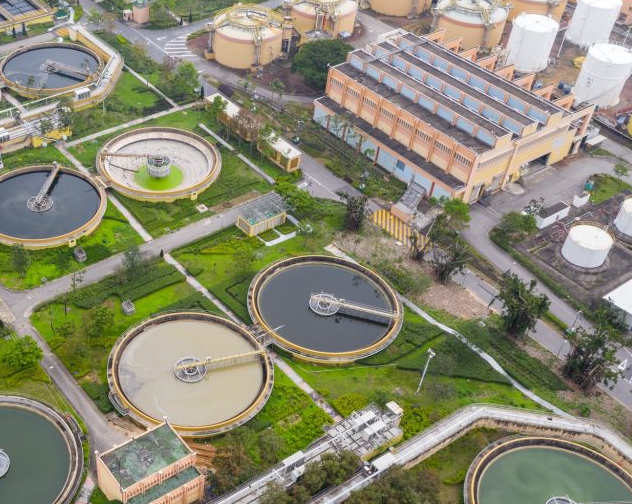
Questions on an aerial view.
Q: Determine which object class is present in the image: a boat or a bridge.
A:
bridge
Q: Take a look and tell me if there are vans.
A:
No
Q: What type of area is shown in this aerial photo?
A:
industrial area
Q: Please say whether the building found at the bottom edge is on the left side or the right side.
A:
left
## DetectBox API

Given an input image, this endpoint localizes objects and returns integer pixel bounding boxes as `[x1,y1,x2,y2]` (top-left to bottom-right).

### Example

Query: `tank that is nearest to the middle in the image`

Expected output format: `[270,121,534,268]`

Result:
[248,253,404,364]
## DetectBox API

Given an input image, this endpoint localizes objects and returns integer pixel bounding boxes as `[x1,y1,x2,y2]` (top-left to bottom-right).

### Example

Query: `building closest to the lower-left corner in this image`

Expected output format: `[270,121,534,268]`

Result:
[95,413,205,504]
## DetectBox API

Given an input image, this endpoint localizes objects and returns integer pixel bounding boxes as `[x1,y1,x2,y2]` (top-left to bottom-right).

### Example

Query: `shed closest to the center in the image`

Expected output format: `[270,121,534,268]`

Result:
[232,195,288,236]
